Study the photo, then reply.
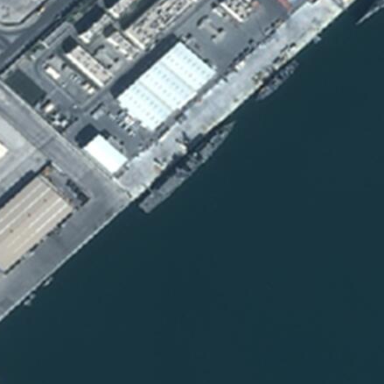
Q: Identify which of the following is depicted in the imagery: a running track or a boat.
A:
boat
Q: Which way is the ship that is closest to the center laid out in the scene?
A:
diagonally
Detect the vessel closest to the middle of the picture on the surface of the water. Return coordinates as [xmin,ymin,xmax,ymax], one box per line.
[139,120,236,214]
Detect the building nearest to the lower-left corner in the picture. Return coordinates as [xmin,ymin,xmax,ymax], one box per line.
[0,174,73,272]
